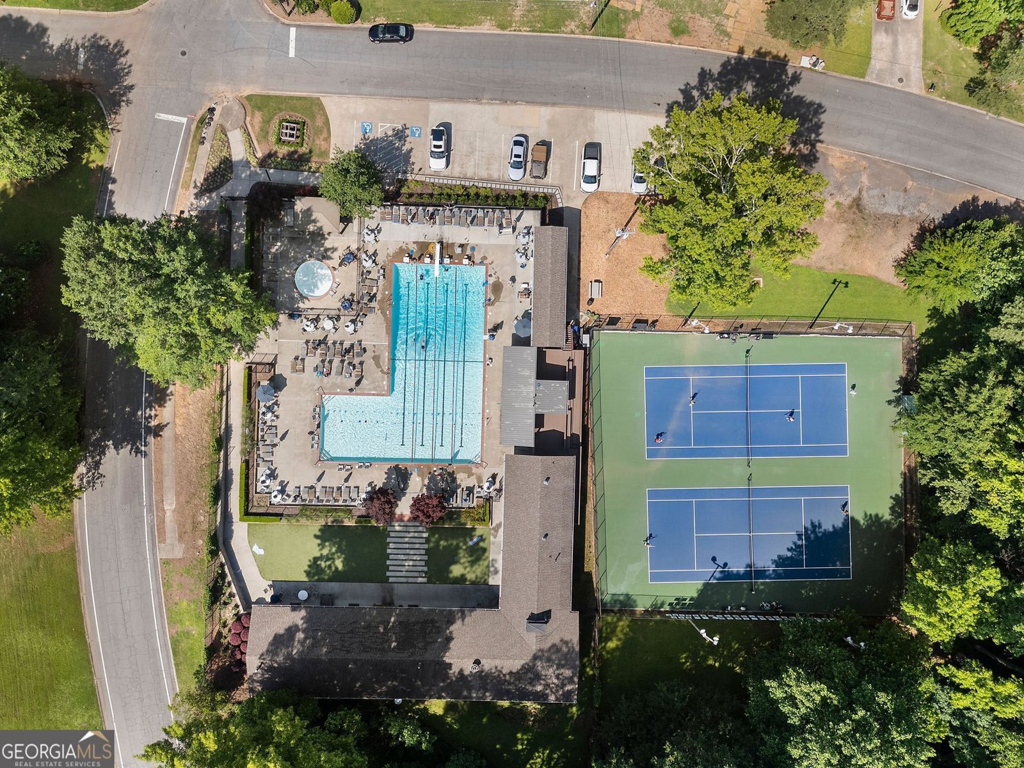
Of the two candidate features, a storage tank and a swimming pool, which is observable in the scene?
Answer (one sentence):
Visible in the photo is a swimming pool.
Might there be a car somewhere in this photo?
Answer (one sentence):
Yes, a car is visible in the scene.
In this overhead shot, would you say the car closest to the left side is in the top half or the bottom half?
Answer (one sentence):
The top half of the photo is where the car closest to the left side is.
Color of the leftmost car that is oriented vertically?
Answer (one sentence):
From above, the leftmost car that is oriented vertically appears white.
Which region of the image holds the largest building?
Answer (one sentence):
The largest building appears toward the bottom of the photo.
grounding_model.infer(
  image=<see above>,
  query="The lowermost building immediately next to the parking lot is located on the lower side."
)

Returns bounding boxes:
[244,455,581,704]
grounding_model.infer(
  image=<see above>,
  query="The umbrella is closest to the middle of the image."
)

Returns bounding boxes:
[513,319,531,338]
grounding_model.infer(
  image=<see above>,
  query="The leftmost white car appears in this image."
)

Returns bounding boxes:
[427,127,447,171]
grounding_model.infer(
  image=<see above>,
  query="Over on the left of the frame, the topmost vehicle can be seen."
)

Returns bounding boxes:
[369,22,411,44]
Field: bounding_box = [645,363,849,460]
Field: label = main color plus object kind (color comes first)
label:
blue tennis court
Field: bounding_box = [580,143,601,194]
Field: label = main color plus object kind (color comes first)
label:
white truck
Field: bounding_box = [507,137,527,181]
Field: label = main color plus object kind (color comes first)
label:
white car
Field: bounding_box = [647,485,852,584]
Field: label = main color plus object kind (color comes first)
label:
blue tennis court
